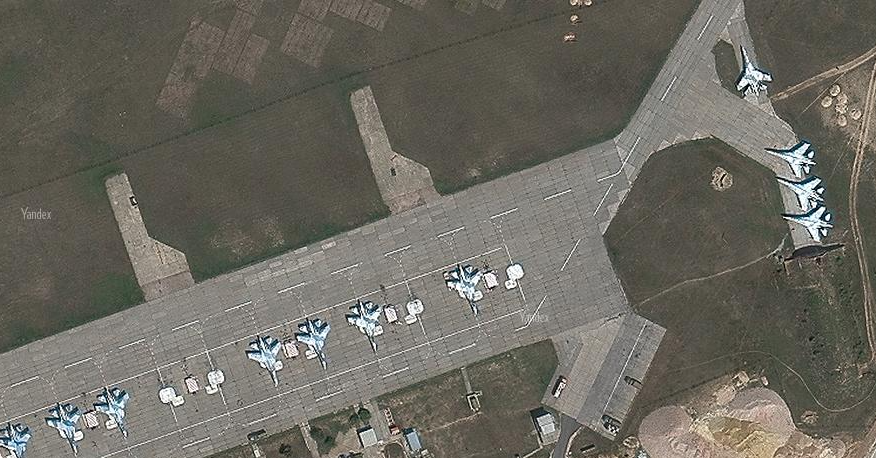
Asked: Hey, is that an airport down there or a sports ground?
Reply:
airport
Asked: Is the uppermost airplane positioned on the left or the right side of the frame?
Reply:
right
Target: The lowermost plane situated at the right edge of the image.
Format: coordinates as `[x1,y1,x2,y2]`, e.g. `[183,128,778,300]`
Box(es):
[780,205,835,241]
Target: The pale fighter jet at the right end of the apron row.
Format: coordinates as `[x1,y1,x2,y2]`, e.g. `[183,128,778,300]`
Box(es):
[446,263,482,316]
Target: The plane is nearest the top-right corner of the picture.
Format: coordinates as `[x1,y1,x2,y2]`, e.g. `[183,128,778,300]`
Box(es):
[735,46,772,99]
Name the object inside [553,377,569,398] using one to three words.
vehicle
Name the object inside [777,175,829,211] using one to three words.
airplane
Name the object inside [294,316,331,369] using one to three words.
airplane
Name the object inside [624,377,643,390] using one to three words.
vehicle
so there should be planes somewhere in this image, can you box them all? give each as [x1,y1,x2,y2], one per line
[777,175,829,211]
[446,263,482,316]
[246,333,282,386]
[735,46,772,99]
[0,420,32,458]
[763,140,819,177]
[45,402,82,455]
[94,385,130,438]
[780,205,835,241]
[346,299,383,354]
[294,316,331,369]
